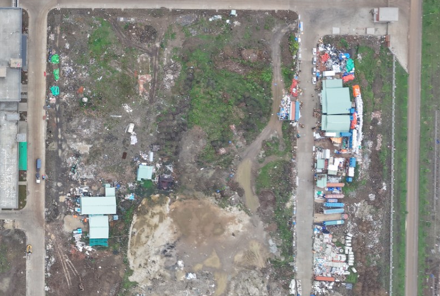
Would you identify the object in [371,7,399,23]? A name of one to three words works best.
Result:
building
